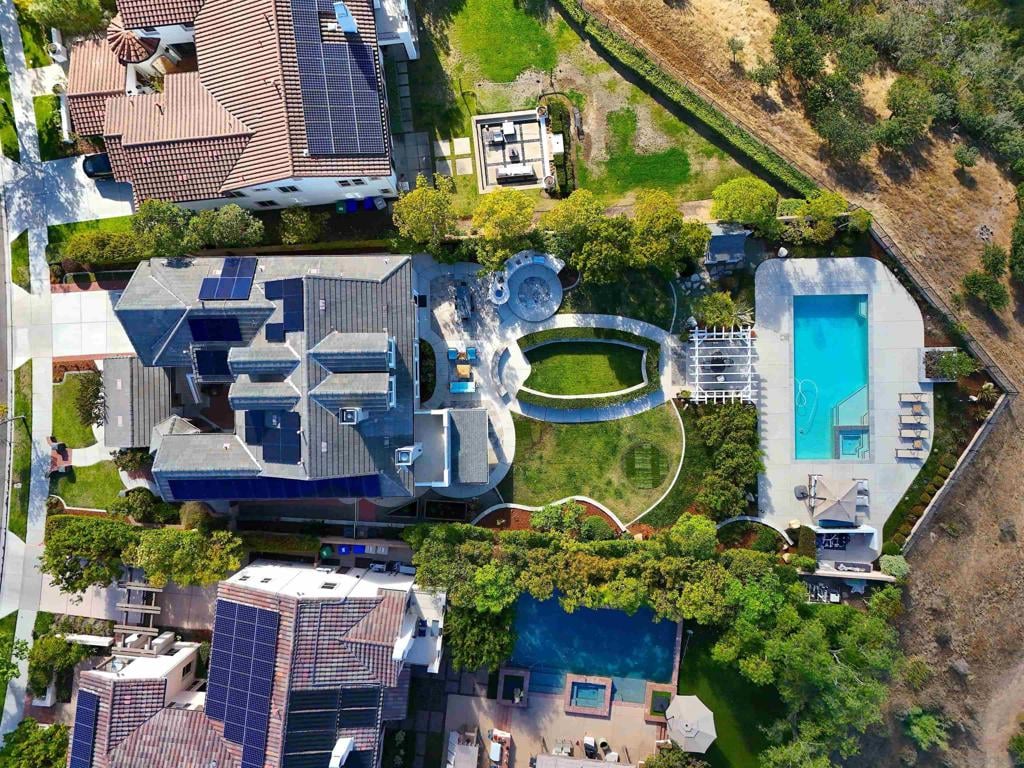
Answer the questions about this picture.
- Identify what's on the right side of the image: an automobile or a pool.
pool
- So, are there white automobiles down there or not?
No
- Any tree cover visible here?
Yes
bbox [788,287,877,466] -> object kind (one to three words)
swimming pool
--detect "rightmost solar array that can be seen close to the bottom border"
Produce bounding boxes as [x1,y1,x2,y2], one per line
[204,600,277,768]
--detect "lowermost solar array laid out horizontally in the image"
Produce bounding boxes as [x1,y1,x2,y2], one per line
[167,479,380,501]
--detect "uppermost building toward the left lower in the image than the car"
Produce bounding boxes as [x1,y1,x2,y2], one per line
[103,256,489,503]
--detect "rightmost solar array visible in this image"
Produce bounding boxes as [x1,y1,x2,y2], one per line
[292,0,385,153]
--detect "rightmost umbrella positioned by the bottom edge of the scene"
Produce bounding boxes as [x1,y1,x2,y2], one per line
[665,694,717,753]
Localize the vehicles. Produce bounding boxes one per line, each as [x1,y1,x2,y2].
[80,149,114,183]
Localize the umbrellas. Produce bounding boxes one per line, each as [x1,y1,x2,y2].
[812,480,858,521]
[665,694,717,753]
